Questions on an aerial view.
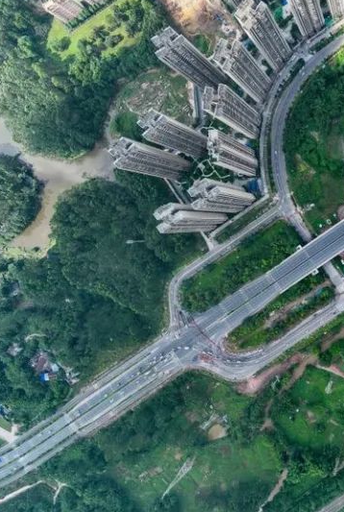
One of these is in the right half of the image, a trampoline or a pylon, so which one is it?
pylon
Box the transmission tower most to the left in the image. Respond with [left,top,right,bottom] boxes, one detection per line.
[156,455,195,499]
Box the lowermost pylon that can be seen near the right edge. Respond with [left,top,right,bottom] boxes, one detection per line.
[327,461,344,482]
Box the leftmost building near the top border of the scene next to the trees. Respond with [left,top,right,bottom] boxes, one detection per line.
[42,0,87,23]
